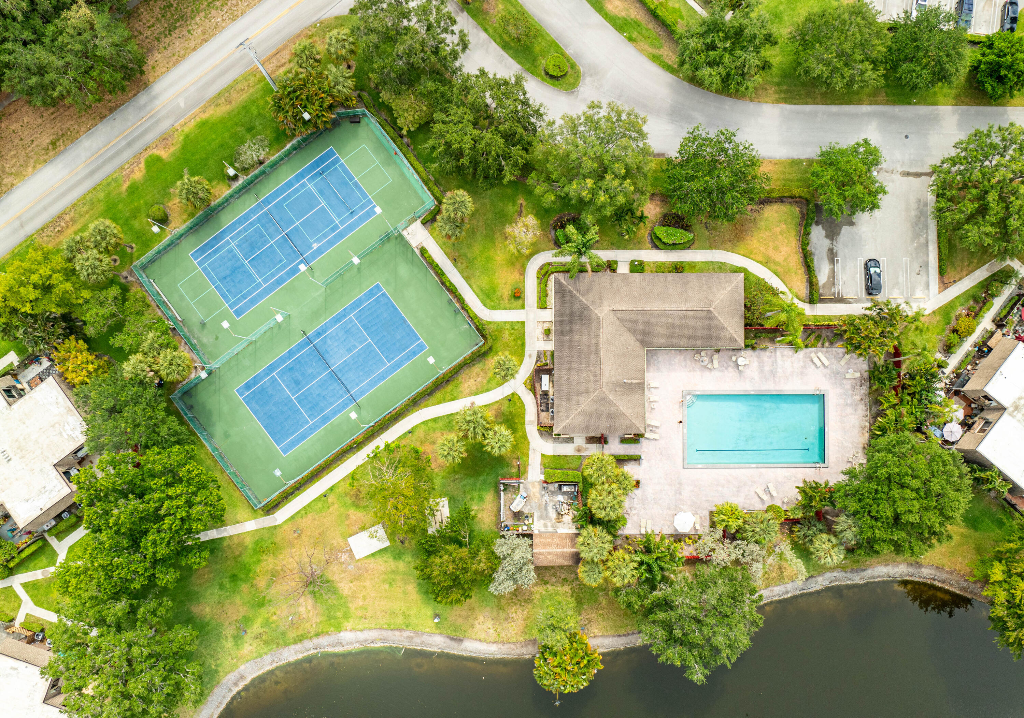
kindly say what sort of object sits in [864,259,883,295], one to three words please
car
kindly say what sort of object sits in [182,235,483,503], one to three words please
tennis court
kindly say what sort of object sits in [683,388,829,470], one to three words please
swimming pool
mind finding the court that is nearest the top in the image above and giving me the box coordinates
[145,117,433,362]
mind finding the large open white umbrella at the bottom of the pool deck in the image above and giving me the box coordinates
[671,510,695,533]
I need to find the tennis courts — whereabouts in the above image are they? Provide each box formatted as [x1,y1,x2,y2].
[145,117,433,362]
[182,235,483,503]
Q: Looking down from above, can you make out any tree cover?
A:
Yes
